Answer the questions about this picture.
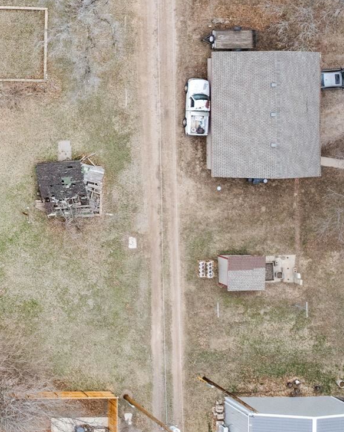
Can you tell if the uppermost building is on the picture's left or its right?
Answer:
right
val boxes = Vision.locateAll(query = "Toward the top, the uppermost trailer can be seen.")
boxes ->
[203,27,259,52]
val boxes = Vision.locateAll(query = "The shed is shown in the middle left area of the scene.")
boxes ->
[35,152,113,216]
